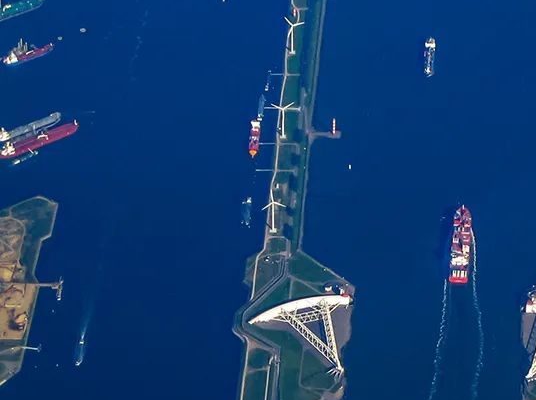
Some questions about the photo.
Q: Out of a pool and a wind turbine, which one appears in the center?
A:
wind turbine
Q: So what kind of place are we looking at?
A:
port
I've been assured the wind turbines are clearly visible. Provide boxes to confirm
[272,105,295,139]
[285,19,307,54]
[262,194,287,232]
